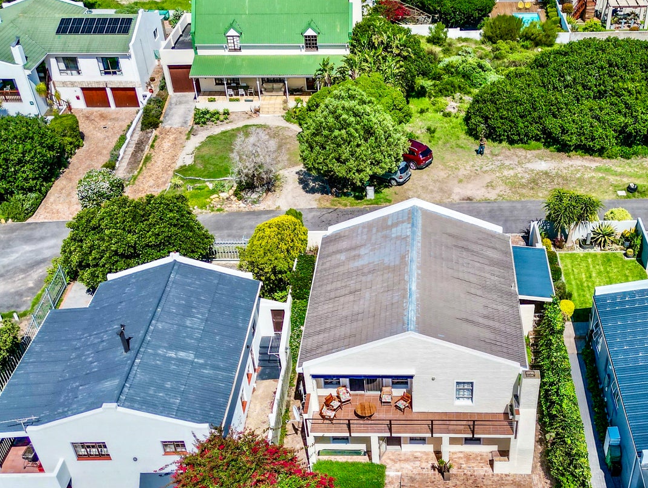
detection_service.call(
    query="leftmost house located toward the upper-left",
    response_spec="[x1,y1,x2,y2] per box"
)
[0,0,159,115]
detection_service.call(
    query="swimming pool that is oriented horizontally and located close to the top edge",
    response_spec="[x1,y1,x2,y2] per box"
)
[511,10,540,23]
